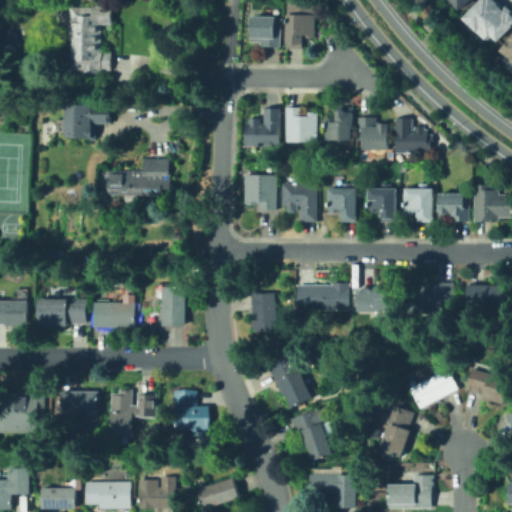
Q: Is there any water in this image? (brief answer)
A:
No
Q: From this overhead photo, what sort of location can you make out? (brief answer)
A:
residential area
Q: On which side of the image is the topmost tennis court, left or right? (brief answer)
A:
left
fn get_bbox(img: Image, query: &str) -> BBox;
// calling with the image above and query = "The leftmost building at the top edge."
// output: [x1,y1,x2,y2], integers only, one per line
[68,8,112,72]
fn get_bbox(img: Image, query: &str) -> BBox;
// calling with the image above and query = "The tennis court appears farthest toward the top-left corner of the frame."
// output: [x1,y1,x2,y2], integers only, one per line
[0,133,30,213]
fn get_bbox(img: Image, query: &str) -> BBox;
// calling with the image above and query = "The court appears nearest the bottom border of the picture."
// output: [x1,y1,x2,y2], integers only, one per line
[0,214,20,242]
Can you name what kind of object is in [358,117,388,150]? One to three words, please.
house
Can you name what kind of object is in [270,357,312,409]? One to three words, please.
house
